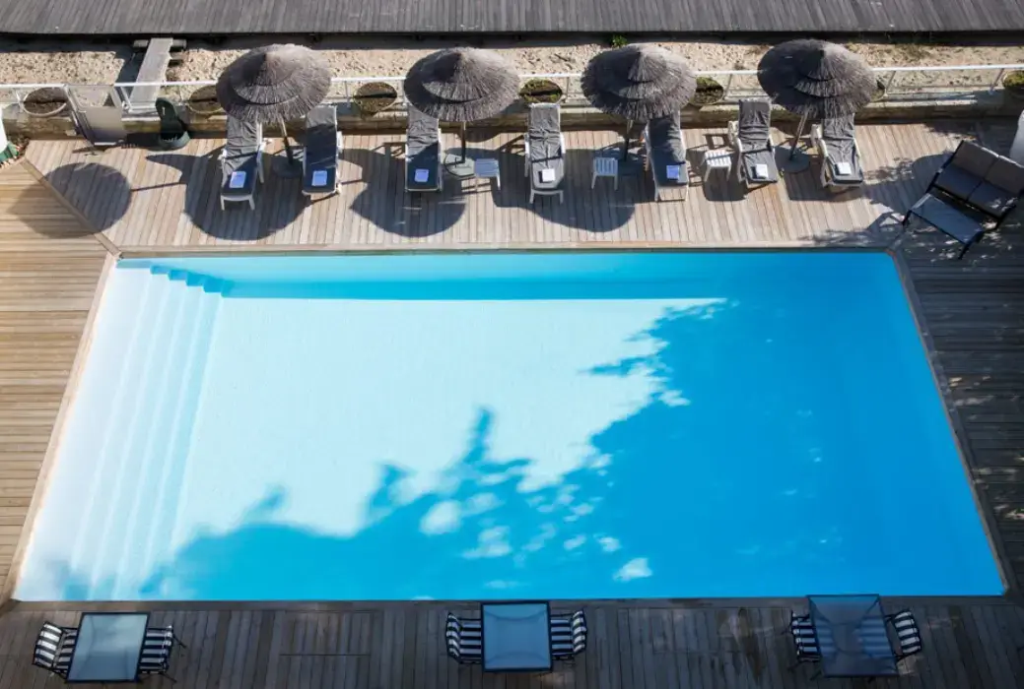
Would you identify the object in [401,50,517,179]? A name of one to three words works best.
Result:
umbrella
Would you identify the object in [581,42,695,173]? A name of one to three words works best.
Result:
umbrella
